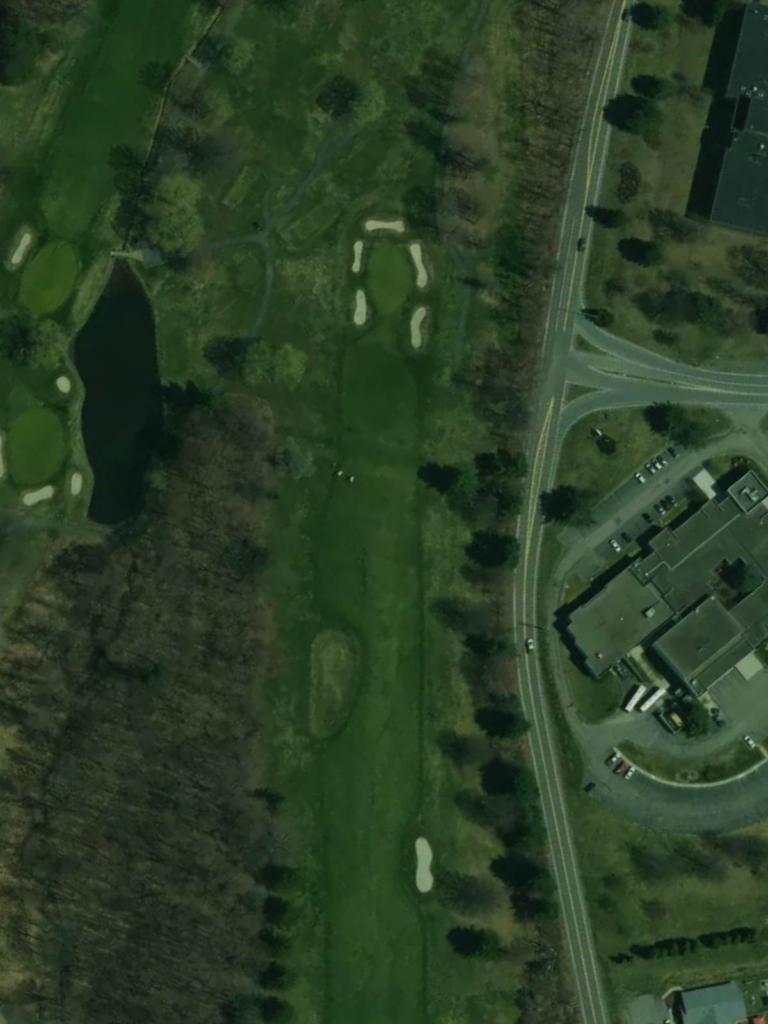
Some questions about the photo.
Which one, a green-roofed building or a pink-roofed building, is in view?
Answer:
green-roofed building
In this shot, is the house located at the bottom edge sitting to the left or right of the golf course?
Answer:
on its right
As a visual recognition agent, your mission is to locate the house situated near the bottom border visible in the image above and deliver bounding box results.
[666,981,748,1024]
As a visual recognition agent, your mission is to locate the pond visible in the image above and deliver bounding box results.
[74,259,165,522]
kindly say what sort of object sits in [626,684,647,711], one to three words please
bus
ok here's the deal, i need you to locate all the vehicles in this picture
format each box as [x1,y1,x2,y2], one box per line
[668,447,679,459]
[622,9,629,21]
[643,512,653,523]
[745,735,755,747]
[607,752,619,765]
[665,495,675,506]
[610,540,621,551]
[641,687,666,710]
[657,454,667,466]
[584,781,596,792]
[625,767,635,779]
[578,238,584,250]
[616,760,627,773]
[528,638,533,651]
[651,459,662,470]
[655,503,665,514]
[660,499,670,510]
[645,463,656,474]
[626,684,647,711]
[635,471,646,485]
[622,532,632,543]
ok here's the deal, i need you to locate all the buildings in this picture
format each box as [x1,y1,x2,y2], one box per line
[706,3,768,236]
[565,471,768,696]
[666,981,748,1024]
